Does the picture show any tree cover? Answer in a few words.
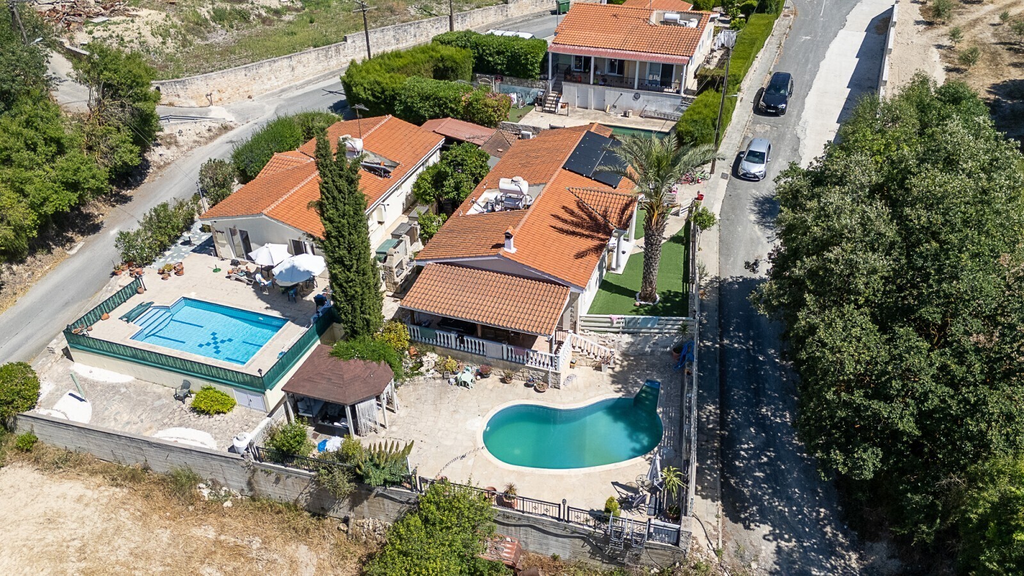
Yes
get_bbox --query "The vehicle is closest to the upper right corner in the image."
[761,69,794,107]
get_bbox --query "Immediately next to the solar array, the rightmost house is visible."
[543,0,715,119]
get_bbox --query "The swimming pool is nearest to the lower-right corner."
[476,377,671,475]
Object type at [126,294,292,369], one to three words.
swimming pool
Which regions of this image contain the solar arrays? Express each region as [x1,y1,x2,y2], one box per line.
[568,128,641,183]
